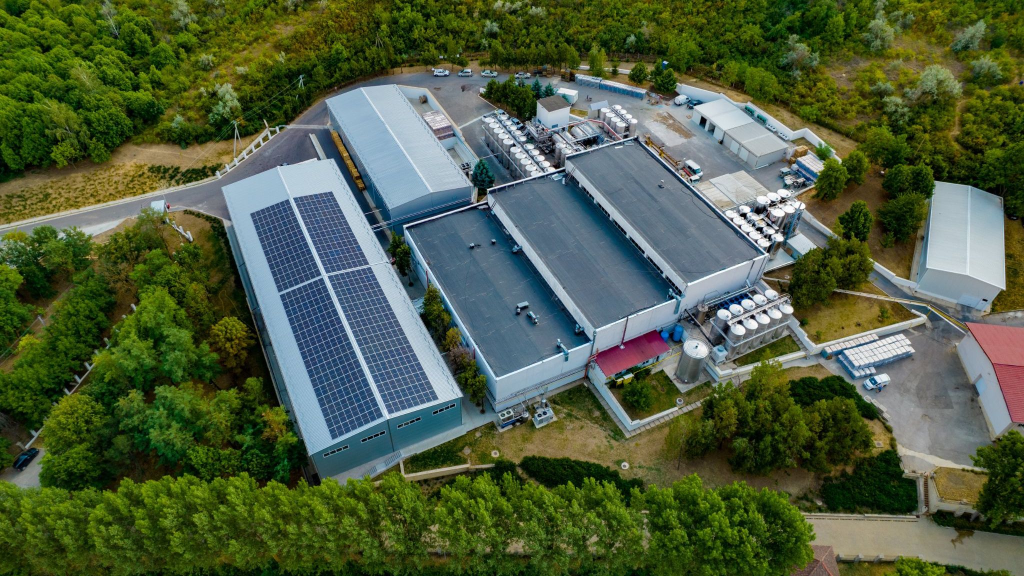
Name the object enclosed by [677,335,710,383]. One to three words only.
storage tank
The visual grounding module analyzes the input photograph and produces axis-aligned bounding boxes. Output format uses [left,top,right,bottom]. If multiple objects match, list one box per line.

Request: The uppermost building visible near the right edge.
[916,181,1006,310]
